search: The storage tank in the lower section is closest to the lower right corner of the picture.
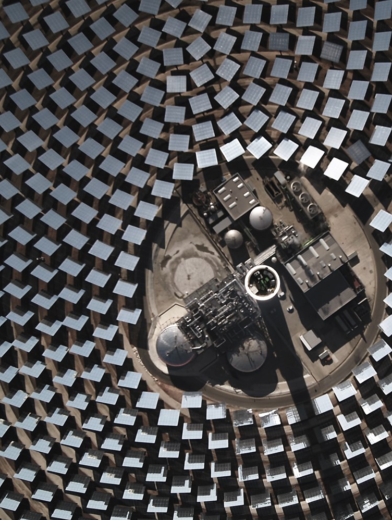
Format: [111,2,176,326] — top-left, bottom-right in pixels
[227,331,267,373]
